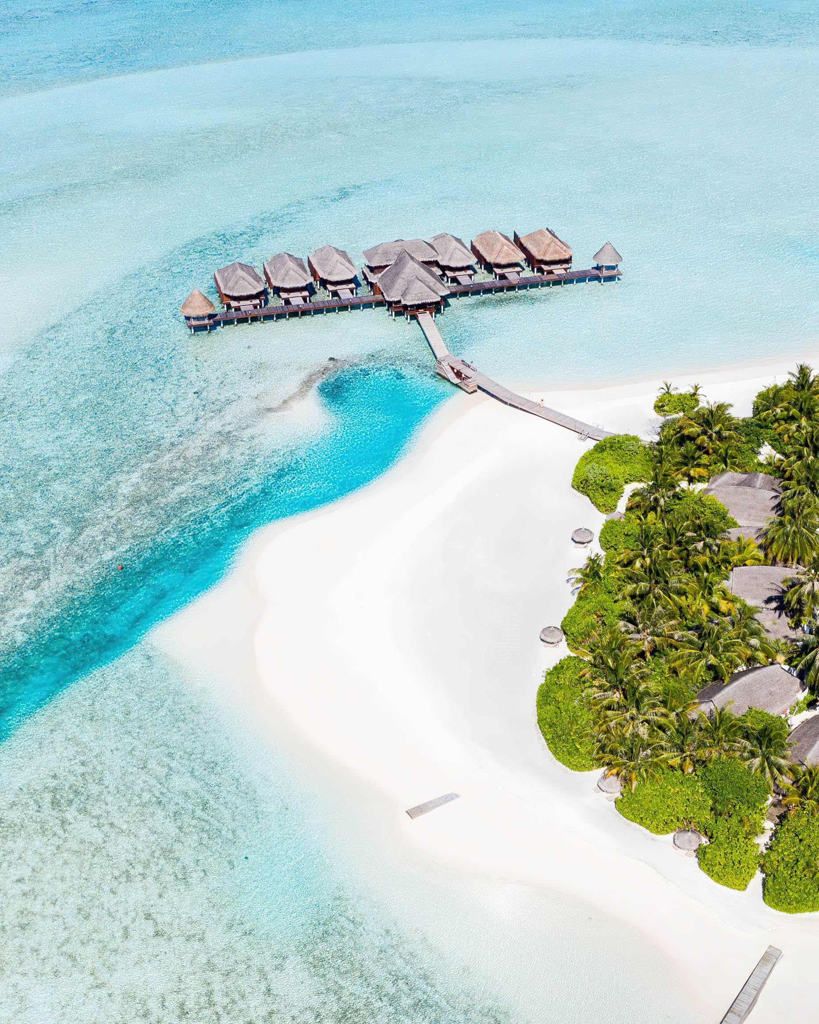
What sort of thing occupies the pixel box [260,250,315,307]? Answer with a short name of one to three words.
house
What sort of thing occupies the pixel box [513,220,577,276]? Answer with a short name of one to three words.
house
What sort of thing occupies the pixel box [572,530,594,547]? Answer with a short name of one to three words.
umbrella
